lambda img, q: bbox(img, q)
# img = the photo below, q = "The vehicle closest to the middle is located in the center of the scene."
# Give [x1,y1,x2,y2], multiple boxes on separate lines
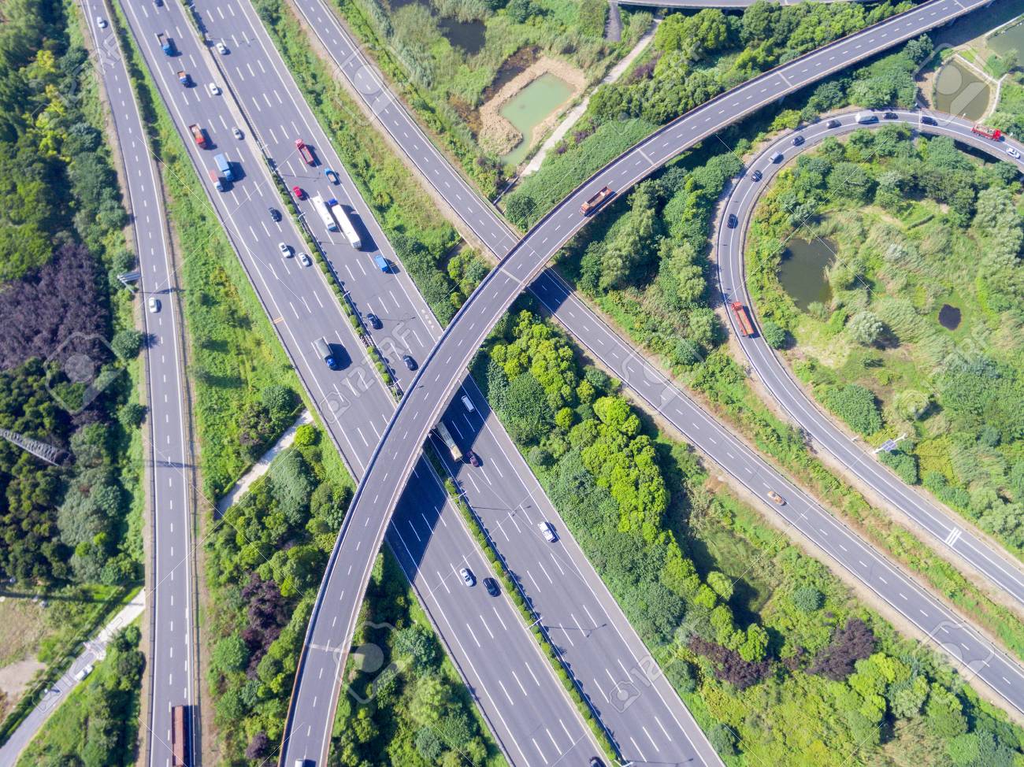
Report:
[460,395,476,414]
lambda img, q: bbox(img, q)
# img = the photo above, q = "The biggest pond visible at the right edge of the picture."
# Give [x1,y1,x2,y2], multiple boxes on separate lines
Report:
[932,58,991,122]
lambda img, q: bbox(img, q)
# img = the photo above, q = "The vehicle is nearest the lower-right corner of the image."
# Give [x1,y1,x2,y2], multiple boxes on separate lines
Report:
[765,489,785,507]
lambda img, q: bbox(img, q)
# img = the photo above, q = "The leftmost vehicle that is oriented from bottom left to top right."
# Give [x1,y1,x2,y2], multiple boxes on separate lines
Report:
[70,659,96,684]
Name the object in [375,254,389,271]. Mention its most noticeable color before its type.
blue vehicle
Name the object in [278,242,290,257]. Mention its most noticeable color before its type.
white vehicle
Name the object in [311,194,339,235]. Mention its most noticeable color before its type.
white bus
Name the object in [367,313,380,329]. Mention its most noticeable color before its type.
blue vehicle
